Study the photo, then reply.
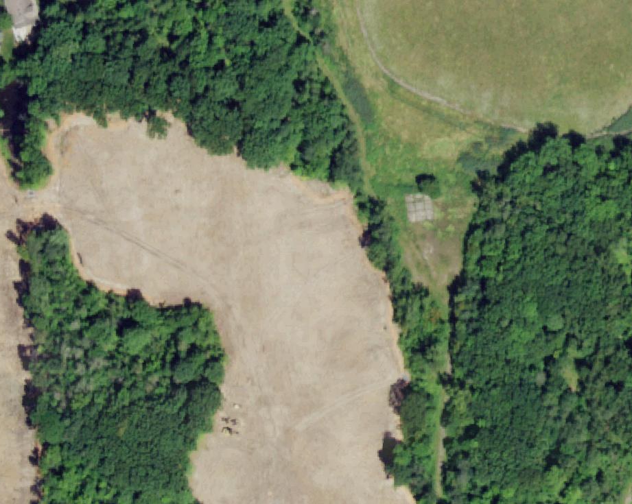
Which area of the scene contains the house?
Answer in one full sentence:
Look in the top left portion of the view to spot the house.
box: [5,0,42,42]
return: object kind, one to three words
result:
house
